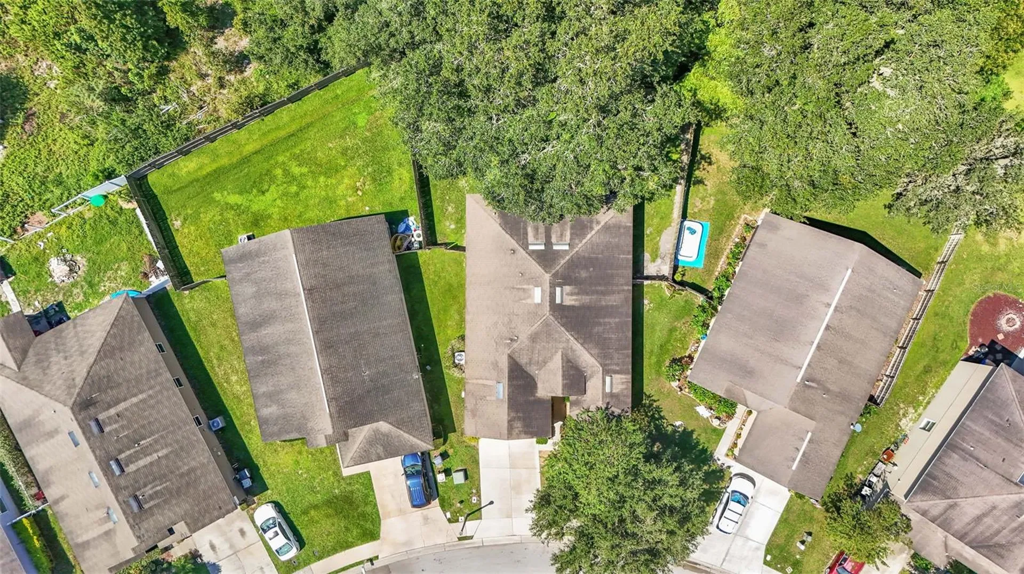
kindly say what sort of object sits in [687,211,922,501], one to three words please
house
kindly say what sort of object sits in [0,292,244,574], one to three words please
house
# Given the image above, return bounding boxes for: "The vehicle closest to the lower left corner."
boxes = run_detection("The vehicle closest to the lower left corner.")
[259,501,298,562]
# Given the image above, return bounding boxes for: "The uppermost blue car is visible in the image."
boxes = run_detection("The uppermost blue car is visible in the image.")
[402,452,433,512]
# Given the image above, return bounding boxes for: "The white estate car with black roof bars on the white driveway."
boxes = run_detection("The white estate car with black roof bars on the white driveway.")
[713,474,754,536]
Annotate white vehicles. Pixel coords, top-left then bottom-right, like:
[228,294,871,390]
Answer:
[713,474,754,536]
[259,501,298,562]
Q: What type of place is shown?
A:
residential area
